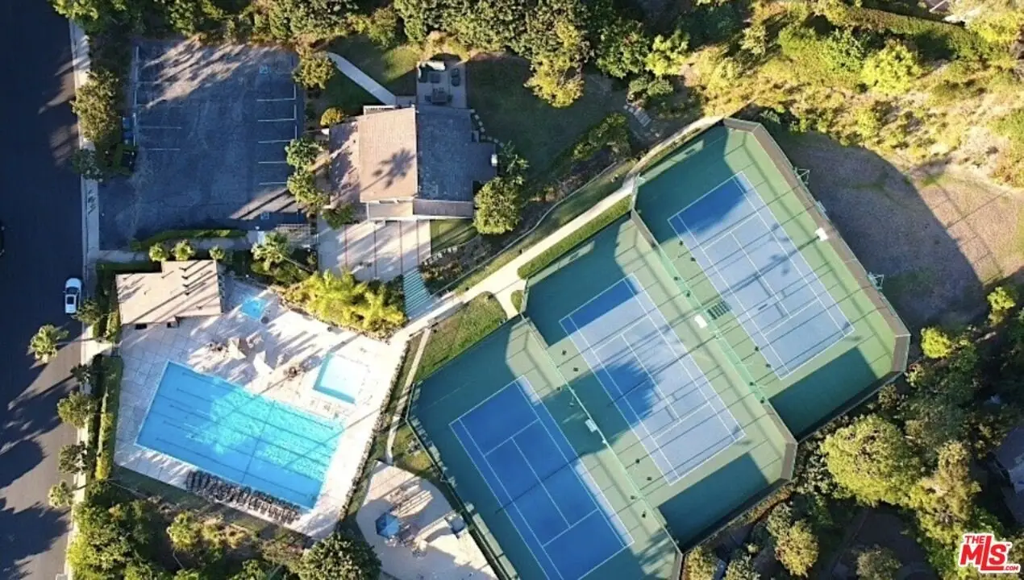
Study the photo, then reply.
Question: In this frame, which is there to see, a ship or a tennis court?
tennis court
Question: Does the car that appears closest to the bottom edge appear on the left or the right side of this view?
left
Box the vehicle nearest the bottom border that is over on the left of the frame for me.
[63,279,85,314]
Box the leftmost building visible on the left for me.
[116,259,224,330]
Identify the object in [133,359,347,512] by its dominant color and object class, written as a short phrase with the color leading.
blue swimming pool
